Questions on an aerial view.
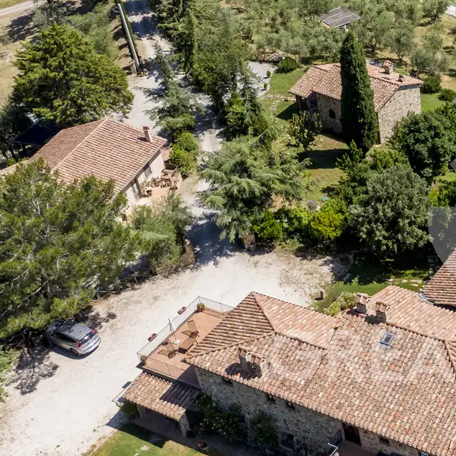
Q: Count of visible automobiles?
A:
1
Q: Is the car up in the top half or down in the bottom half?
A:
bottom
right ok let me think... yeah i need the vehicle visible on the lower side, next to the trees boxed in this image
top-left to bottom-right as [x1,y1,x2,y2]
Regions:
[36,312,103,350]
